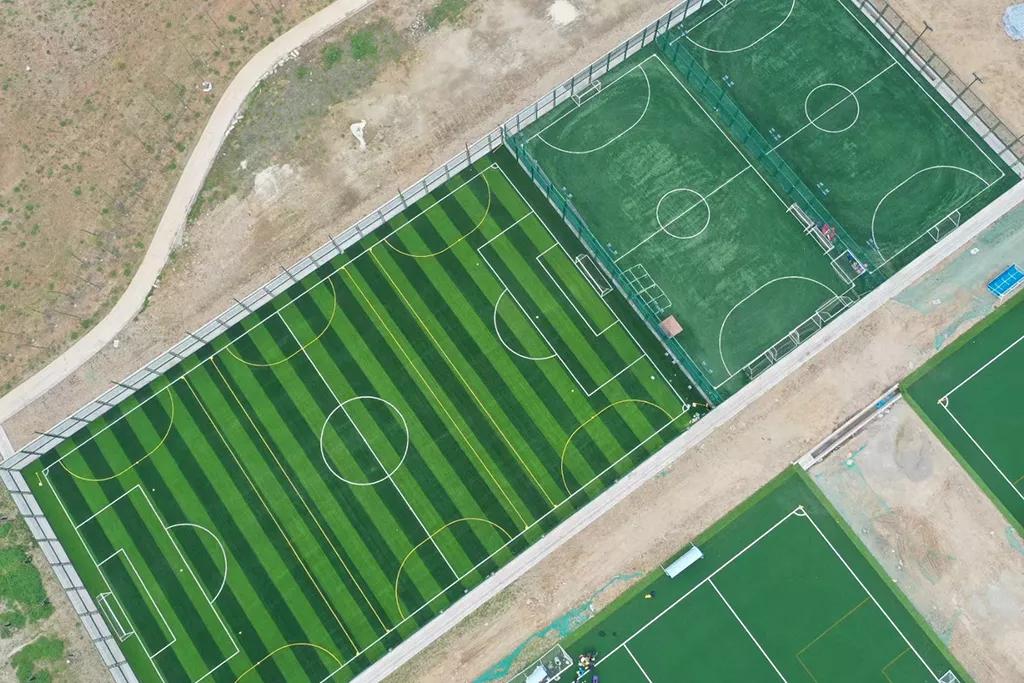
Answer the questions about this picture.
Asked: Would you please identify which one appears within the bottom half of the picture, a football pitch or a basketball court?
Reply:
football pitch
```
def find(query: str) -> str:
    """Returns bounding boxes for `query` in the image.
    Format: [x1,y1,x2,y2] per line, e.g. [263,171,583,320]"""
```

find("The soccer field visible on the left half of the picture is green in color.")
[18,142,713,683]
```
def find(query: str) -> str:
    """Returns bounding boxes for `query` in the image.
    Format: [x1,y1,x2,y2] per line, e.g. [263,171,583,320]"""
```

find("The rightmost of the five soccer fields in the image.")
[895,286,1024,537]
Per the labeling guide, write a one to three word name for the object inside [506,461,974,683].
soccer field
